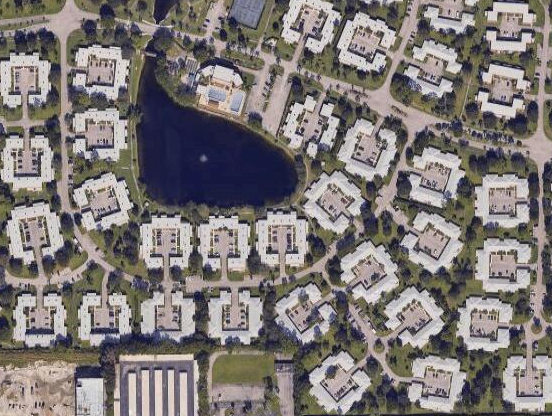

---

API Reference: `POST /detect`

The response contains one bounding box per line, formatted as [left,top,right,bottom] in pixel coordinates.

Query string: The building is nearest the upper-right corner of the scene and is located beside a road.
[487,0,536,53]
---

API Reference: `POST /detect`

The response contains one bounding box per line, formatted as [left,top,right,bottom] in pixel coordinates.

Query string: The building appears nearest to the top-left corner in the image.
[0,54,51,107]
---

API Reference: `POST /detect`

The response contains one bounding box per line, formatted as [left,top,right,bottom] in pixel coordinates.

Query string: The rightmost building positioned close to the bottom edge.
[503,357,552,411]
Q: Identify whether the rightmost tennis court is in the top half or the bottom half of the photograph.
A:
top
